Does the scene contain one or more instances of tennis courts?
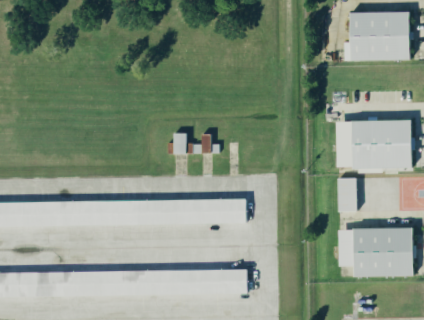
No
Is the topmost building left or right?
right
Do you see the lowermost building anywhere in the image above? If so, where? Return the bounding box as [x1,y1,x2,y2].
[0,268,249,298]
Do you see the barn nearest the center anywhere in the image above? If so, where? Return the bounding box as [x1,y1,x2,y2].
[194,134,221,154]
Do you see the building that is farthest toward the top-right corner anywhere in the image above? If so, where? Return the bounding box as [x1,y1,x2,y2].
[344,12,415,62]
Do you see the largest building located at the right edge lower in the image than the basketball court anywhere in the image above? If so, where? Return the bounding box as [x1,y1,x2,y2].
[338,228,417,277]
